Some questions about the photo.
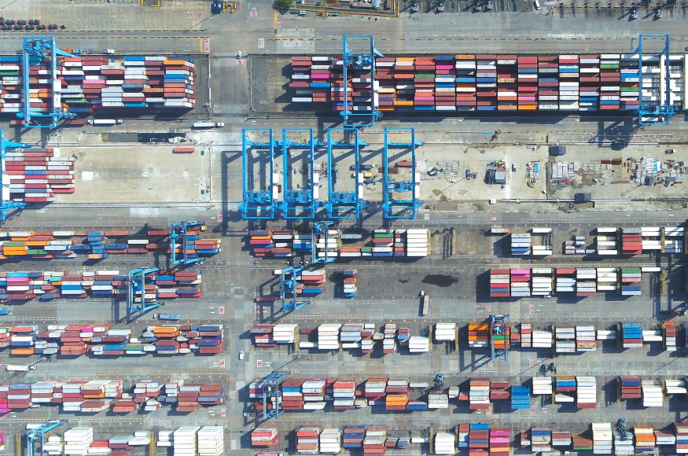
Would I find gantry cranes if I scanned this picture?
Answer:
Yes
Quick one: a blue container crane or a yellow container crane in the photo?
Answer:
blue container crane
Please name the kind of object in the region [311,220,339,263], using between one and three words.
crane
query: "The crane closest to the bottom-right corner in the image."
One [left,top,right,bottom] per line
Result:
[491,313,511,360]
